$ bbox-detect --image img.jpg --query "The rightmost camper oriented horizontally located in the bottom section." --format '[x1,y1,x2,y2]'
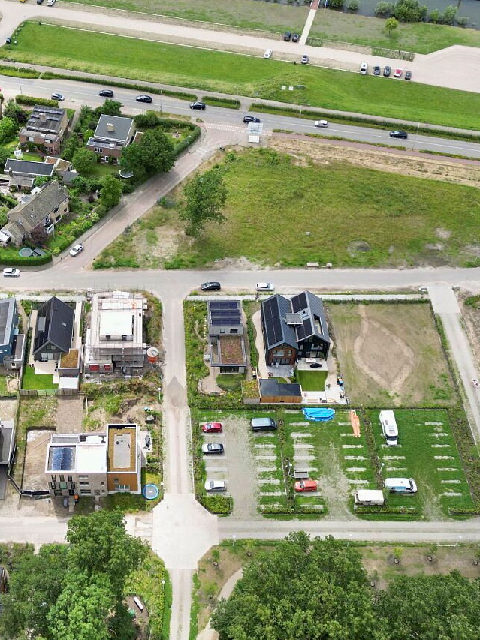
[383,477,417,493]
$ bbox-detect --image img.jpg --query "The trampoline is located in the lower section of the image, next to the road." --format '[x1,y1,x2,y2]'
[143,483,161,501]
